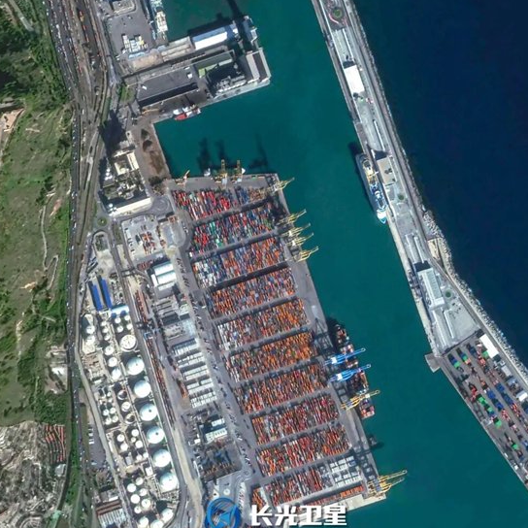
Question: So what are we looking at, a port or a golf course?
port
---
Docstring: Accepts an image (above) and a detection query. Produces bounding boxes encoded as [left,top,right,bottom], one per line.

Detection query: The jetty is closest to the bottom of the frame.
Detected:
[294,490,384,525]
